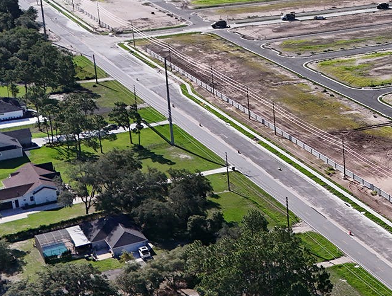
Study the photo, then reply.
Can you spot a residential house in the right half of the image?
No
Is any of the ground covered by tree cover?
Yes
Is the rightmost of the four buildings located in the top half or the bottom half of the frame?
bottom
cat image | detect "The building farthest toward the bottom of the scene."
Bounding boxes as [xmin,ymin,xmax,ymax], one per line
[33,213,148,264]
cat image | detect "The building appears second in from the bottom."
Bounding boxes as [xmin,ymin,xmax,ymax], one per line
[0,163,65,210]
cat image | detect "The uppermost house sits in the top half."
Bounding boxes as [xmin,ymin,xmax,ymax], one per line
[0,98,26,120]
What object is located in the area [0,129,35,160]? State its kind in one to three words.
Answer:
house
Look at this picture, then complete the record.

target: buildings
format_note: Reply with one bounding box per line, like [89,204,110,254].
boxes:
[33,213,148,264]
[0,129,35,160]
[0,98,26,120]
[0,163,65,210]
